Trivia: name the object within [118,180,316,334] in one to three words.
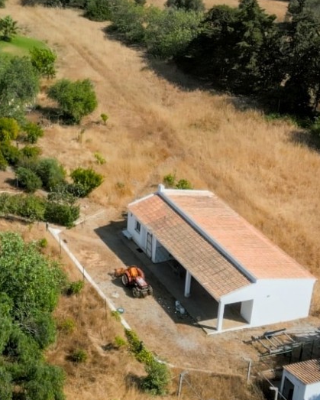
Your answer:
barn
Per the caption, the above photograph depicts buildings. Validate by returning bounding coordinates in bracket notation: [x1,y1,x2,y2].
[118,180,316,334]
[281,351,320,400]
